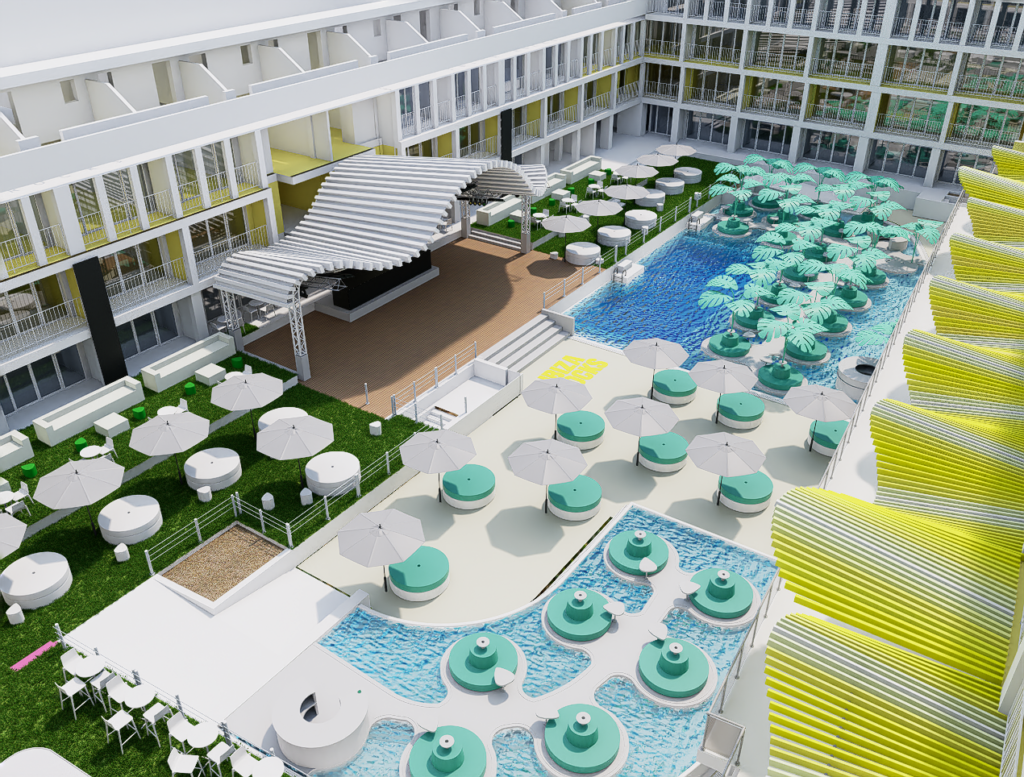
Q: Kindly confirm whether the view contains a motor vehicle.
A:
No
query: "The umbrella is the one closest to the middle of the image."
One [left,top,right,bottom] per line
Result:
[521,376,593,440]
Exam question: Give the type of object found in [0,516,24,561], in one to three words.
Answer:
umbrella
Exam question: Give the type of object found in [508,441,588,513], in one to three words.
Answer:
umbrella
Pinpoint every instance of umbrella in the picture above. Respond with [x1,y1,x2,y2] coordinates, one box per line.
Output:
[635,153,677,170]
[129,412,209,483]
[337,512,423,592]
[541,217,592,263]
[655,143,696,159]
[623,340,690,399]
[685,435,766,505]
[783,387,859,452]
[521,376,593,440]
[688,363,759,424]
[604,399,679,466]
[603,185,648,226]
[399,432,477,503]
[256,416,334,486]
[613,165,657,186]
[573,201,621,245]
[0,516,24,561]
[31,459,124,535]
[211,372,282,438]
[508,441,588,513]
